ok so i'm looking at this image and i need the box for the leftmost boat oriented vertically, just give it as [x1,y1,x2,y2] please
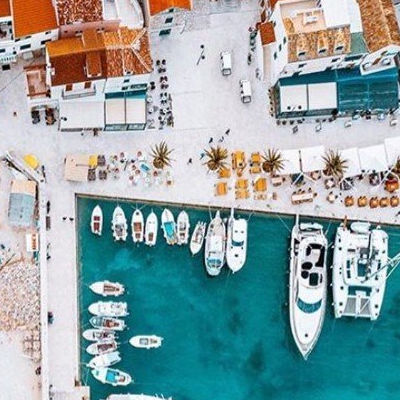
[90,205,103,238]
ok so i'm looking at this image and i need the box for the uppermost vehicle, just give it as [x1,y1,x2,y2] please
[218,50,232,79]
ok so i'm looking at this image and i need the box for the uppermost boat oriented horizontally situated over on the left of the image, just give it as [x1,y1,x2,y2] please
[89,281,126,297]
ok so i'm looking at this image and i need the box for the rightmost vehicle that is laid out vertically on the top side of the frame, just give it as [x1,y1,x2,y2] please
[238,79,252,107]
